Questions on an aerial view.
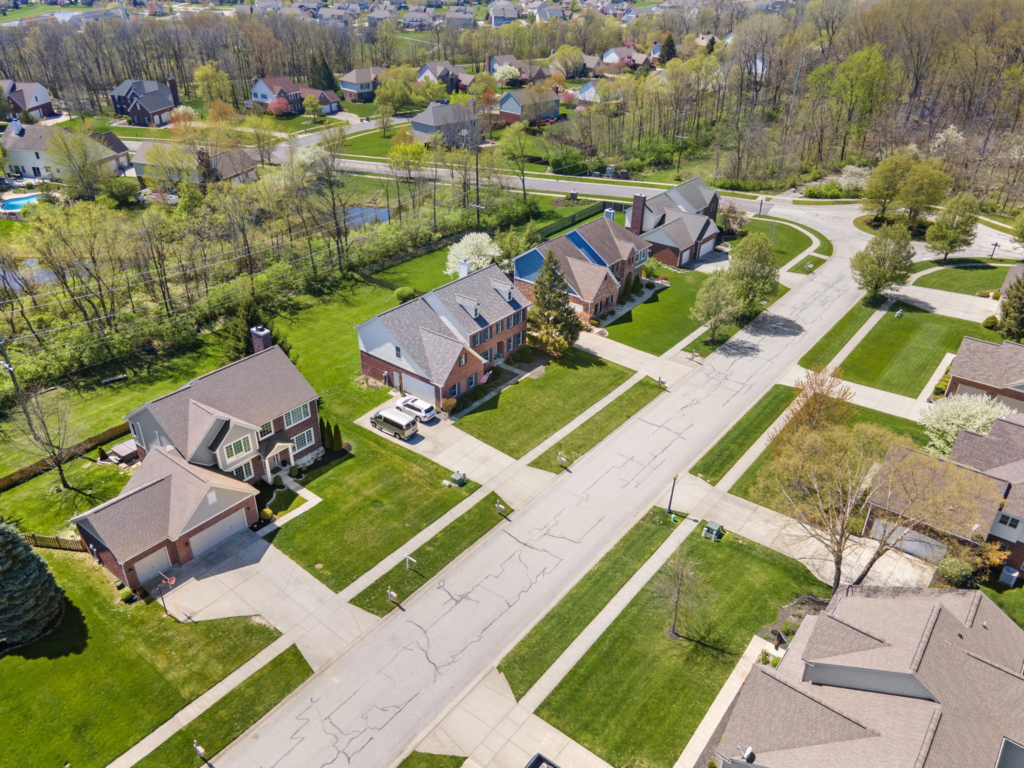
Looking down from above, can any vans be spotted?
Yes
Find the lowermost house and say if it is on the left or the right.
right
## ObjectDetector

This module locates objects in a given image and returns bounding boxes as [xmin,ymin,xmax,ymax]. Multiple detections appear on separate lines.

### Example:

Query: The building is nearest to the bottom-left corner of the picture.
[75,329,325,591]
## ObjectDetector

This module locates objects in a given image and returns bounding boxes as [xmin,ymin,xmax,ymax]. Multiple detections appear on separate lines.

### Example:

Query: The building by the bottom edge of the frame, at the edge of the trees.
[709,577,1024,768]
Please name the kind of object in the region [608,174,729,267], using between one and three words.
house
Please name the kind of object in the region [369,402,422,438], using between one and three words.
van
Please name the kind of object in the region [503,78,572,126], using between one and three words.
house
